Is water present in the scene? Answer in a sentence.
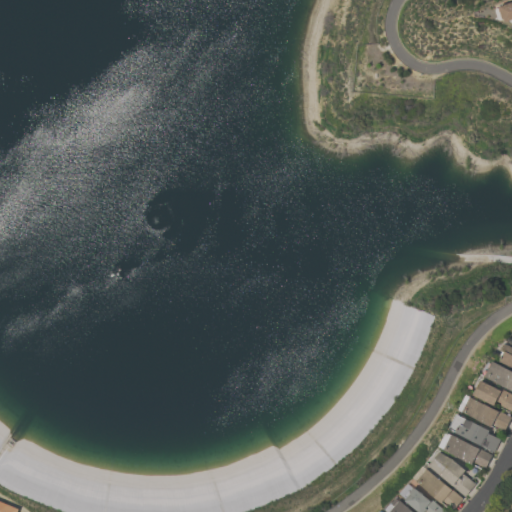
Yes, water shows up in the scene.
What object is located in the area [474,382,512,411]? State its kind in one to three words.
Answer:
house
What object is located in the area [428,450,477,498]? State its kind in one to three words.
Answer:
house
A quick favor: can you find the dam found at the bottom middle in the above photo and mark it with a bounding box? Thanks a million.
[0,297,434,512]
